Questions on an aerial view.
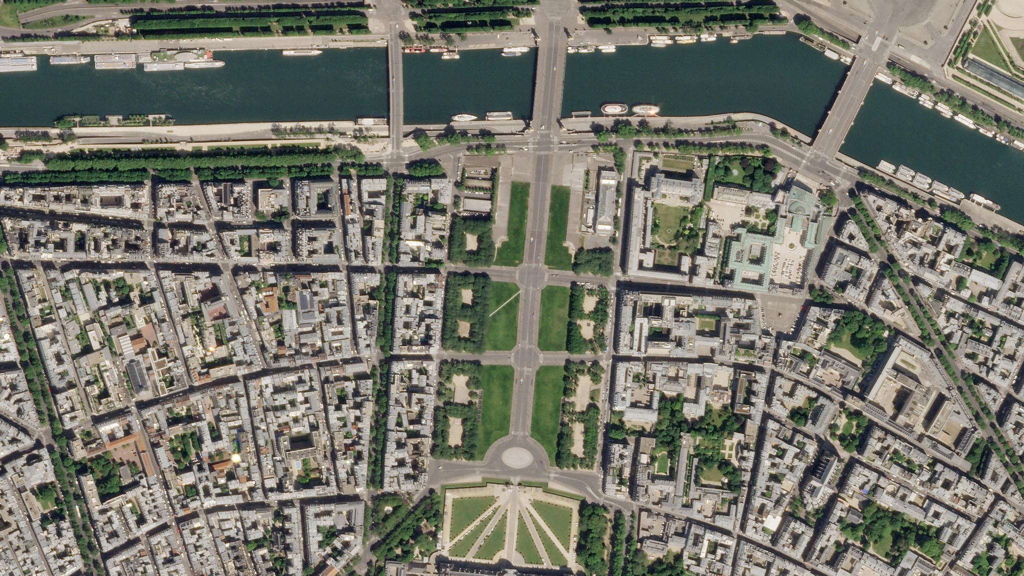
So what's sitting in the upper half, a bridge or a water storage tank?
bridge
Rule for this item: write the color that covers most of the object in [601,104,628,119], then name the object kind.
white boat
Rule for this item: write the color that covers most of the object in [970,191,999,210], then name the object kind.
white boat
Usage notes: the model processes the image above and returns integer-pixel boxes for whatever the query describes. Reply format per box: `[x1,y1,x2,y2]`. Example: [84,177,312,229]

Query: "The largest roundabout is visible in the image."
[484,437,550,483]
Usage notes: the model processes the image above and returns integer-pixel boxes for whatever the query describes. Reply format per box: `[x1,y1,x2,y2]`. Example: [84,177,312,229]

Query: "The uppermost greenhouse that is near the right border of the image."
[963,58,1024,97]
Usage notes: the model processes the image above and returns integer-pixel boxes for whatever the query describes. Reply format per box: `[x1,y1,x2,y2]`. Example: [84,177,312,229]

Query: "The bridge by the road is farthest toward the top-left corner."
[387,33,405,138]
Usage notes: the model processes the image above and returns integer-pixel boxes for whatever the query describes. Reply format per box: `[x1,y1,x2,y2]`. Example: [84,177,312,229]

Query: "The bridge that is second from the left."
[533,29,567,132]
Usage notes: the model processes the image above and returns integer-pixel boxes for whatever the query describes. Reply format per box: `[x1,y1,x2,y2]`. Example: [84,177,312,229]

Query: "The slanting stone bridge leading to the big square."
[812,53,881,156]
